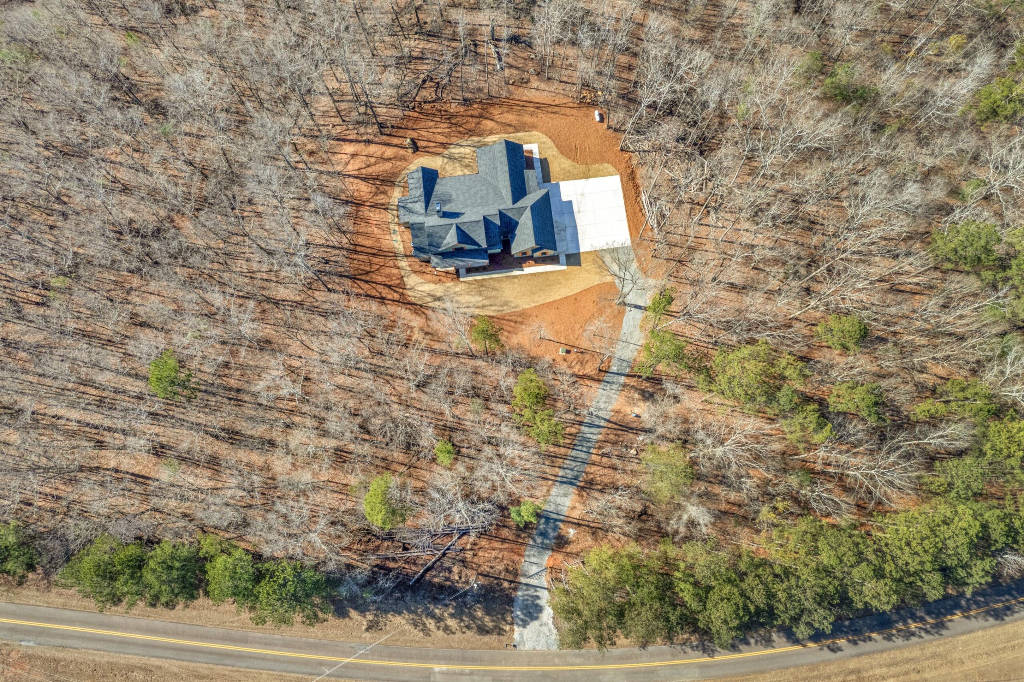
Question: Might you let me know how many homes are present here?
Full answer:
The picture shows just 1 home.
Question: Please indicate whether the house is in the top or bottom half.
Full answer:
The house sits in the top half of the picture.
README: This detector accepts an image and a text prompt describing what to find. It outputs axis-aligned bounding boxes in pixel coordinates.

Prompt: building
[397,138,557,273]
